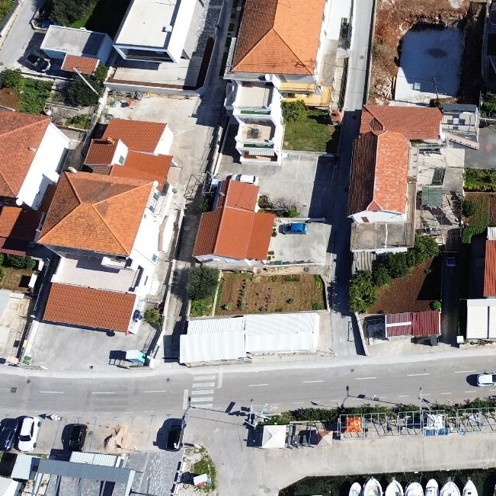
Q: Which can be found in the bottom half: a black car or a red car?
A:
black car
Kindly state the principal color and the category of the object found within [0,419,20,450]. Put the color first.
black car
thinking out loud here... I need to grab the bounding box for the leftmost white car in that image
[14,416,40,450]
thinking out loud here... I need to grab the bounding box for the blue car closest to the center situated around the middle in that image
[282,219,307,233]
